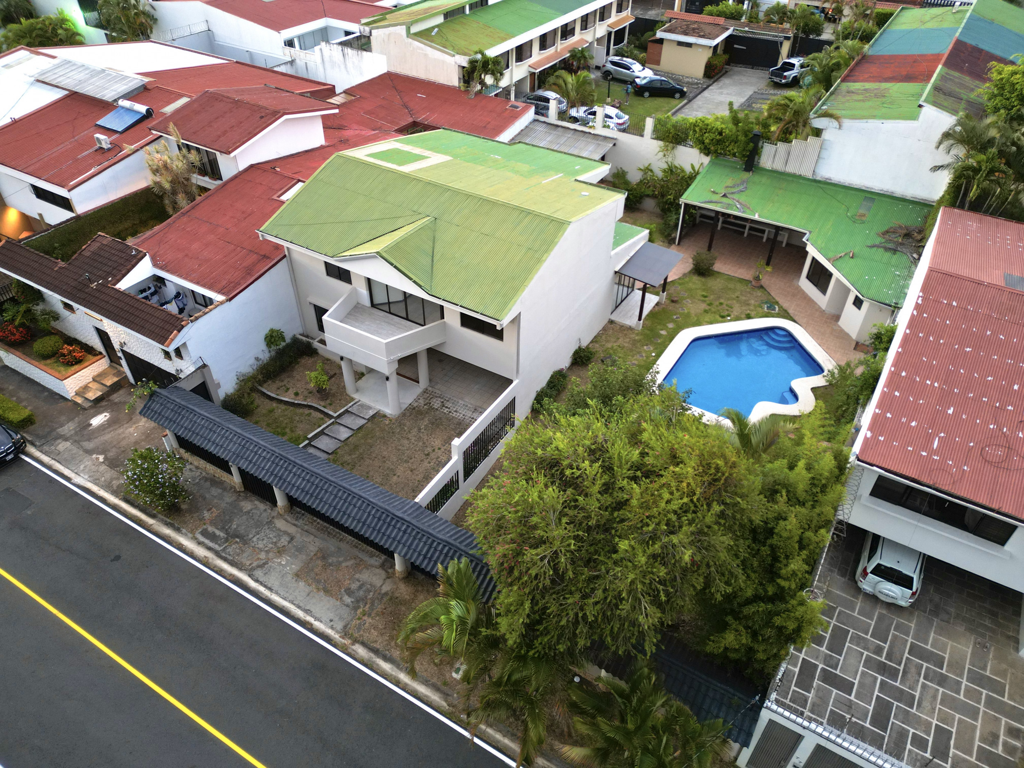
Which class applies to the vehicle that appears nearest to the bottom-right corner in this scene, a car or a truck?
car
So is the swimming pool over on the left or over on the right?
right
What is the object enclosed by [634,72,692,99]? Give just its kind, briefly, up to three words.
car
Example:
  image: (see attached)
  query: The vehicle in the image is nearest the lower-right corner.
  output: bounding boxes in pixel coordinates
[861,534,935,614]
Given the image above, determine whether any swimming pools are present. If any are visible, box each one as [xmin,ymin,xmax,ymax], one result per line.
[646,317,839,429]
